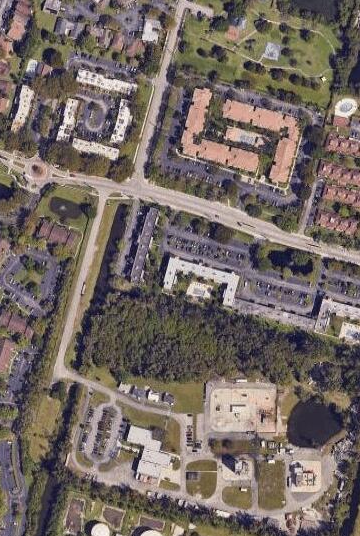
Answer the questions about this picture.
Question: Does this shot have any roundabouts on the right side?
No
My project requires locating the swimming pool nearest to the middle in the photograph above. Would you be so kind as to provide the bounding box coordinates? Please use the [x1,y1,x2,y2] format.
[188,283,211,299]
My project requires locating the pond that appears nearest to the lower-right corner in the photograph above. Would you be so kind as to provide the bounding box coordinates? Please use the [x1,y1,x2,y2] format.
[289,400,342,444]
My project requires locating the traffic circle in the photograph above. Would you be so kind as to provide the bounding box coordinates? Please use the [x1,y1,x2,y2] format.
[25,154,54,184]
